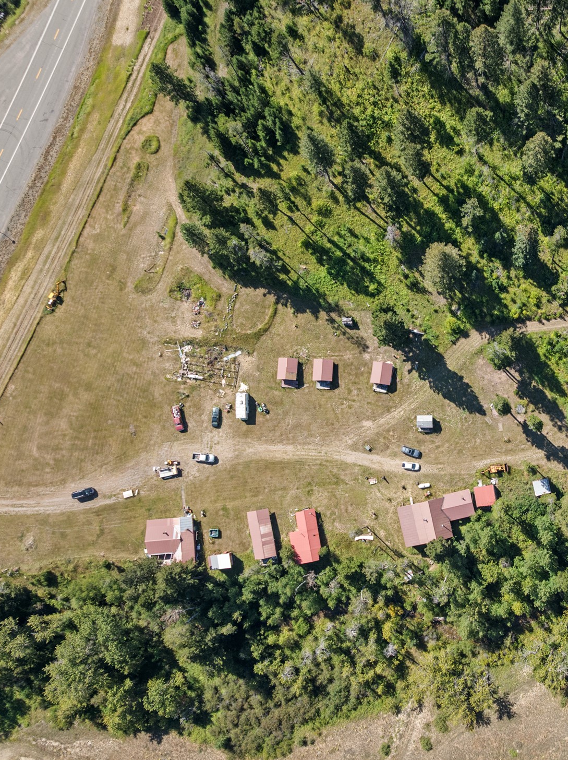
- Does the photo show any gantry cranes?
No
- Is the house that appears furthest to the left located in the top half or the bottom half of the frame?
bottom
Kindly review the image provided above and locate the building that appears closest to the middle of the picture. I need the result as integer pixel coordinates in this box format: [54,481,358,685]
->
[278,358,300,388]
